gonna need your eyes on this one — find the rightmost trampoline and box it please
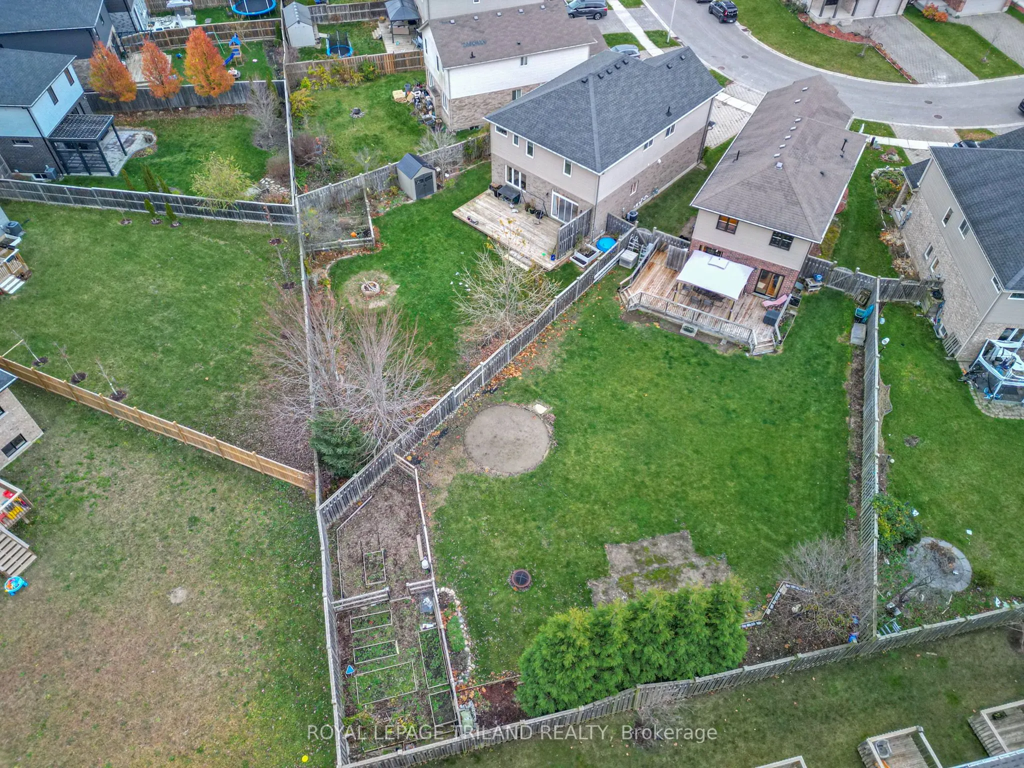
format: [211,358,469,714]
[321,27,356,58]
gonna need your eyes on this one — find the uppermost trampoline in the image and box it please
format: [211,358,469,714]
[228,0,280,21]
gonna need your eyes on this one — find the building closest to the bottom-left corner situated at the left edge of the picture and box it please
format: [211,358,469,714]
[0,373,45,471]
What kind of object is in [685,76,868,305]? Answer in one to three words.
house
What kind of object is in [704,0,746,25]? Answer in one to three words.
car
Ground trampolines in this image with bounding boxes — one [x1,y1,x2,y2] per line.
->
[321,27,356,58]
[228,0,280,21]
